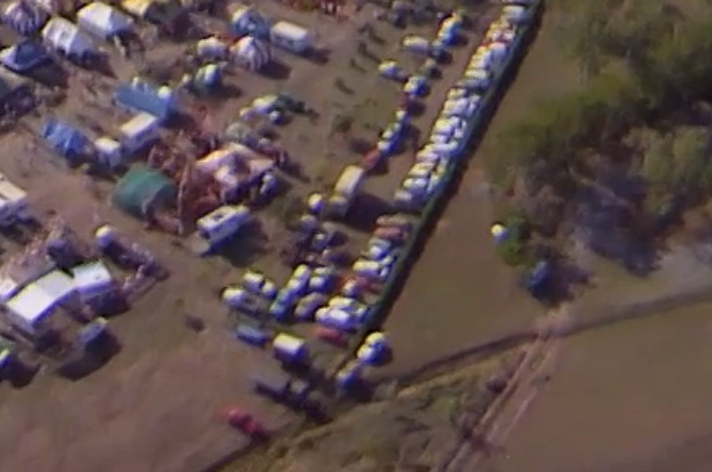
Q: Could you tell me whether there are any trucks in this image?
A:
Yes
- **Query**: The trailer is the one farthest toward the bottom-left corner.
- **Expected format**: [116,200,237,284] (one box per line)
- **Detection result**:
[78,317,118,356]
